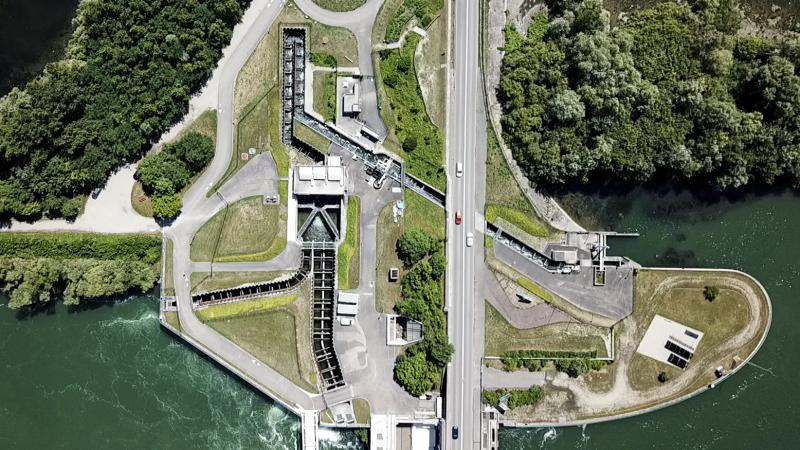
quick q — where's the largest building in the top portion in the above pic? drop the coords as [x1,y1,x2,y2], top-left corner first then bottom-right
[294,156,348,200]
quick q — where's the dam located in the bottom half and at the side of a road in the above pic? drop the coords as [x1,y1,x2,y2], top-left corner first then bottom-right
[319,398,370,427]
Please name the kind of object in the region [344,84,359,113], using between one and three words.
building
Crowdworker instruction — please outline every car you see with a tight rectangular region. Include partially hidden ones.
[452,426,459,441]
[456,162,462,177]
[466,232,473,246]
[455,211,462,224]
[425,393,434,400]
[419,395,430,401]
